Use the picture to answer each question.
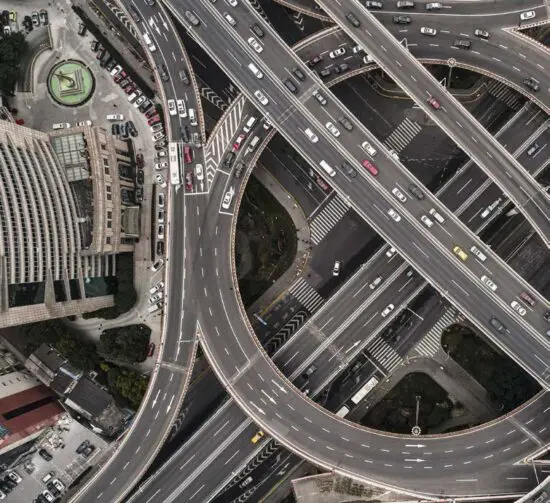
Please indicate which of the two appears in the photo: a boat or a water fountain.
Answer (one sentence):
There is a water fountain in the scene.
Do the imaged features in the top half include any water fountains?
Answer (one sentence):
Yes, a water fountain is visible in the top half.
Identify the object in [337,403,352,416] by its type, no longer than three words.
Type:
vehicle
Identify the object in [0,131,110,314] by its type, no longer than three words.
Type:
building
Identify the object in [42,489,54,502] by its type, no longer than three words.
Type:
vehicle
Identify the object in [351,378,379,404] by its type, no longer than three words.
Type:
bus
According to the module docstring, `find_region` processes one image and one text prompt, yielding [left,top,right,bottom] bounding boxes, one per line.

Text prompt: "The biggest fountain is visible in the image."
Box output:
[46,58,93,106]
